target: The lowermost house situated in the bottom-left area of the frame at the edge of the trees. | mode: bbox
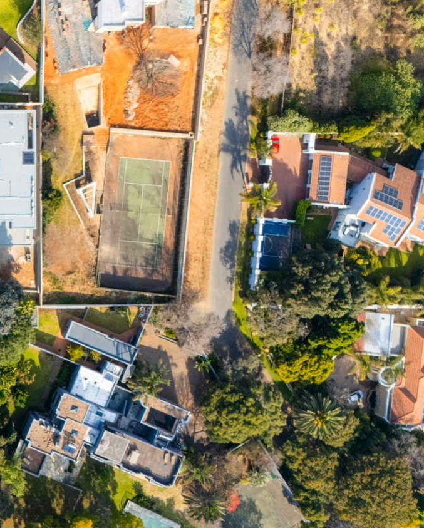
[19,357,191,488]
